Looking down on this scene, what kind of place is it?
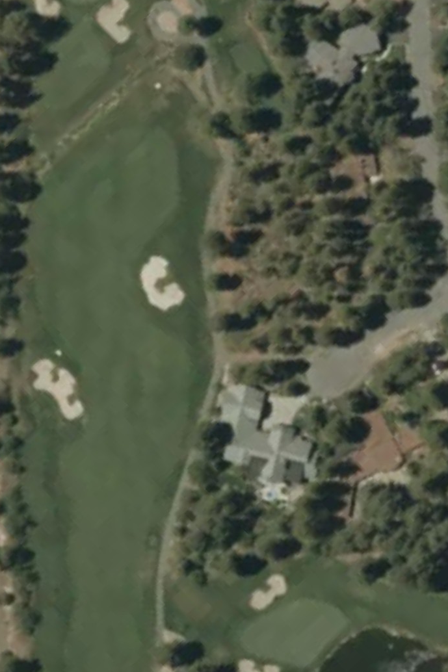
golf course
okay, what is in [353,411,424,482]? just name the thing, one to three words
house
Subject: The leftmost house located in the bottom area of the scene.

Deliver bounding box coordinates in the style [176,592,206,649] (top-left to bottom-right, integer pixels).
[221,391,312,482]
